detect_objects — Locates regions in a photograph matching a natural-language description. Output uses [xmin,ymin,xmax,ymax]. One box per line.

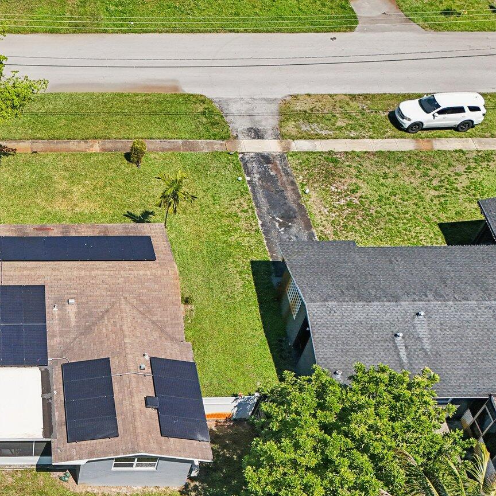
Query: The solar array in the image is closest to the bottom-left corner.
[62,358,118,442]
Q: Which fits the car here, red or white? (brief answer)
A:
white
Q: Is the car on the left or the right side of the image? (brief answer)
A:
right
